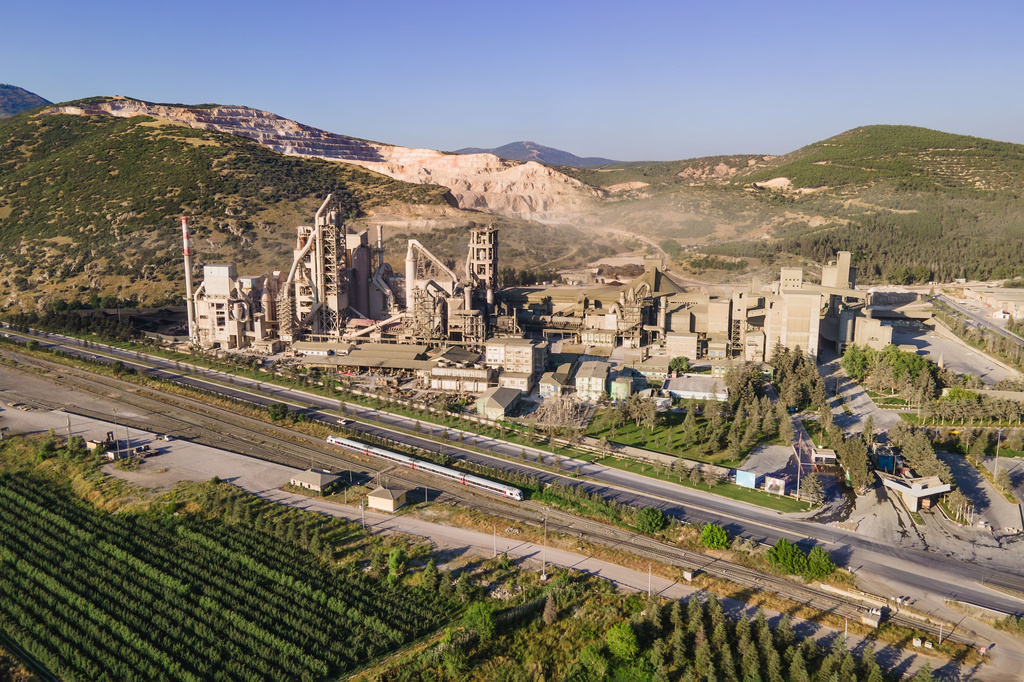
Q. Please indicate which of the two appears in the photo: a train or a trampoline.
train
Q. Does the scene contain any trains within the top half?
No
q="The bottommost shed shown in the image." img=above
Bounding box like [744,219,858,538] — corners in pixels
[862,599,898,628]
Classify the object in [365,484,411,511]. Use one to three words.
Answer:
shed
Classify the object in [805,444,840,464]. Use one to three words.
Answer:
building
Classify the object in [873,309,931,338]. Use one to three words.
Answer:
shed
